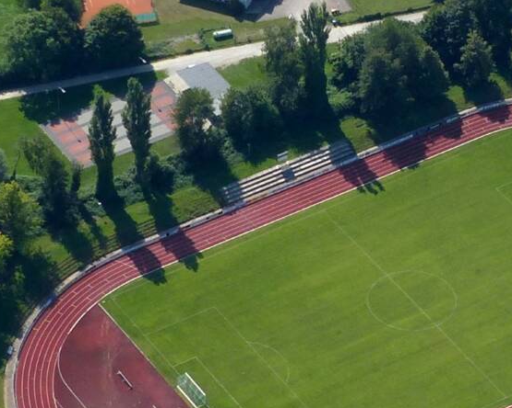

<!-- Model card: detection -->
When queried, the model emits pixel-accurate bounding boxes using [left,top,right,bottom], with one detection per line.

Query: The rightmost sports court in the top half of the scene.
[131,85,184,133]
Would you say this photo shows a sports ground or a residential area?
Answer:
sports ground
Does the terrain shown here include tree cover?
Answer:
Yes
